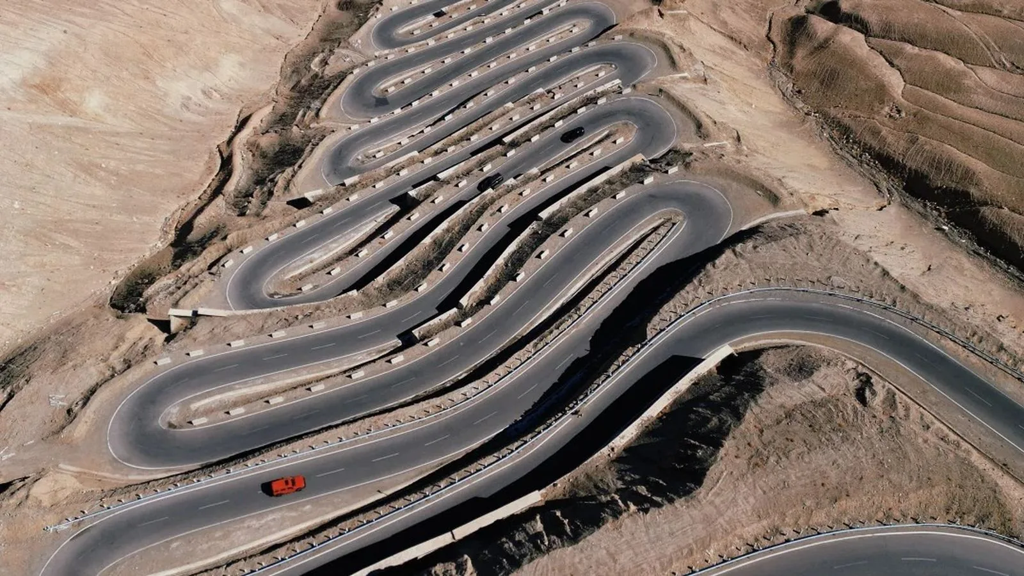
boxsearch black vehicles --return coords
[566,127,585,140]
[485,173,504,188]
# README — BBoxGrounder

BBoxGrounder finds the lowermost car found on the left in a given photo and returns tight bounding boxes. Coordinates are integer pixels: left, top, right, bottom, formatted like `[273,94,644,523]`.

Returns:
[273,477,305,495]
